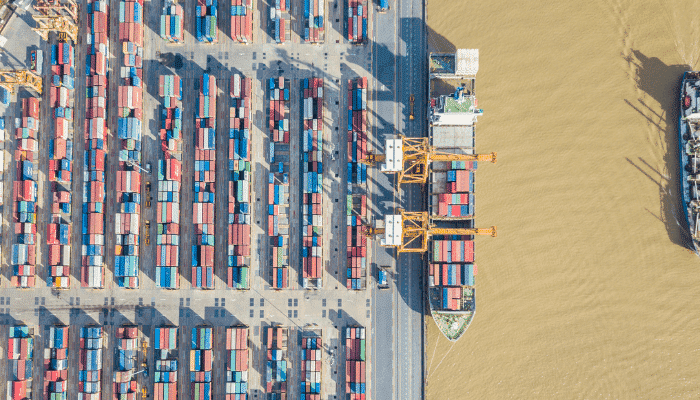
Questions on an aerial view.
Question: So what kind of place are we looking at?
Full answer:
This looks like a port.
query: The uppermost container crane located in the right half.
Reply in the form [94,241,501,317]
[364,136,495,196]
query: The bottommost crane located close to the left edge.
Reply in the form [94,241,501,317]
[0,66,44,97]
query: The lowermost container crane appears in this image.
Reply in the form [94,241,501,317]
[364,209,495,263]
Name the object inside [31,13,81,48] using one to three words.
container crane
